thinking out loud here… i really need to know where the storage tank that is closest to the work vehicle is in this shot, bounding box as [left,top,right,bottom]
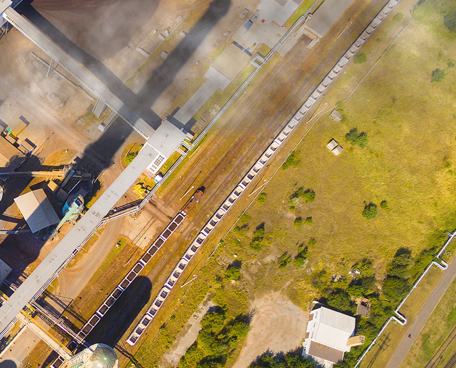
[52,192,84,236]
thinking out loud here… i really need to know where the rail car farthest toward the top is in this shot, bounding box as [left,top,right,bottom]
[377,0,398,20]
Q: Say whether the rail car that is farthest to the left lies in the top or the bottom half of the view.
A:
bottom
